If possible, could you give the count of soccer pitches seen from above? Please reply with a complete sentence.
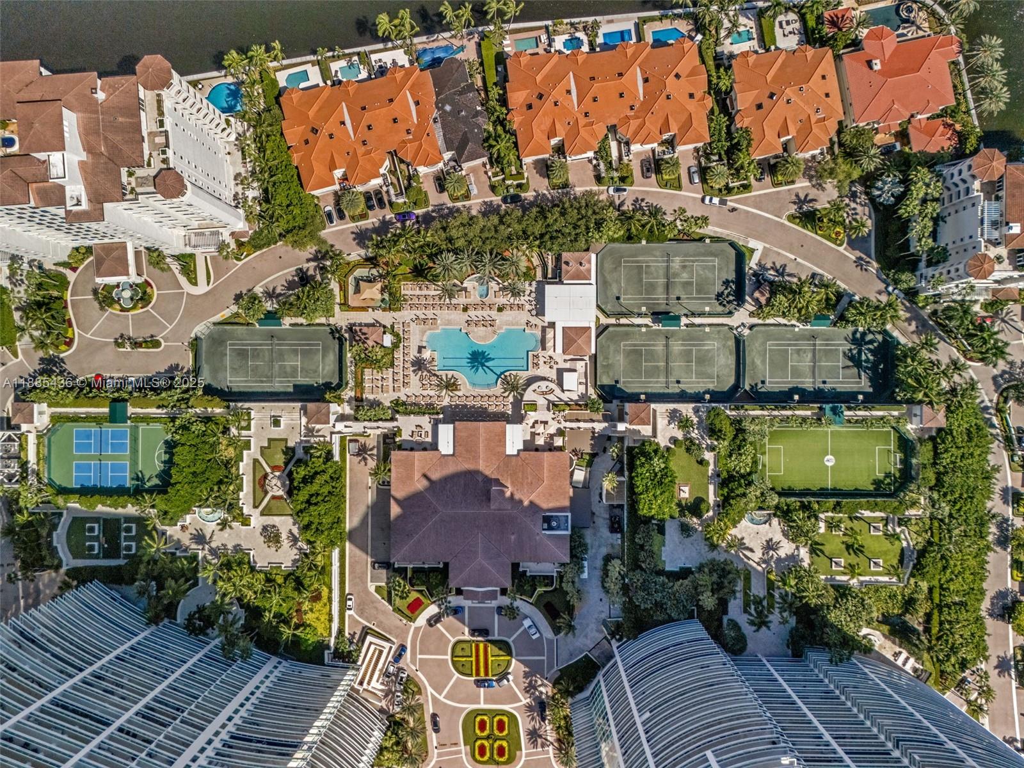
Just 1 soccer pitch appears in this view.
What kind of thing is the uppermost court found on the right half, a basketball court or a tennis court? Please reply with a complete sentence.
The uppermost court found on the right half can be classified as a tennis court.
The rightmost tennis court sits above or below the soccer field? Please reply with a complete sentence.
In the image, the rightmost tennis court sits above the soccer field.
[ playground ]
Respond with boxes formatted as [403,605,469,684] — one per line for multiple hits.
[348,268,395,308]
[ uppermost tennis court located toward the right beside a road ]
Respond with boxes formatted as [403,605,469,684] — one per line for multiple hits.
[597,239,750,317]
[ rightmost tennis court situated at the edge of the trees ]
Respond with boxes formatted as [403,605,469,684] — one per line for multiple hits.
[745,326,903,403]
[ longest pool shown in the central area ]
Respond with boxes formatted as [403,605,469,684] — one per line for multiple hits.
[424,327,542,391]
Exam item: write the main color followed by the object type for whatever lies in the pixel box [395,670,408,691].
gray vehicle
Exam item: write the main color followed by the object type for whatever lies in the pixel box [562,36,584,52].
blue swimming pool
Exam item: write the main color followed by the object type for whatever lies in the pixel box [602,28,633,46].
blue swimming pool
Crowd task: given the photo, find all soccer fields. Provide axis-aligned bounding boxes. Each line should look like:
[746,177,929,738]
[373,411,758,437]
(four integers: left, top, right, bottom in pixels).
[756,425,918,499]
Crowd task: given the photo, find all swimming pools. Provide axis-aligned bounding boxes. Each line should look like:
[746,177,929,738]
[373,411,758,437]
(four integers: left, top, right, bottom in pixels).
[478,281,489,300]
[338,61,362,79]
[416,43,467,69]
[730,29,753,45]
[285,68,310,86]
[602,28,633,46]
[424,327,542,391]
[208,81,243,114]
[513,36,540,50]
[562,36,584,52]
[865,3,920,31]
[651,26,685,44]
